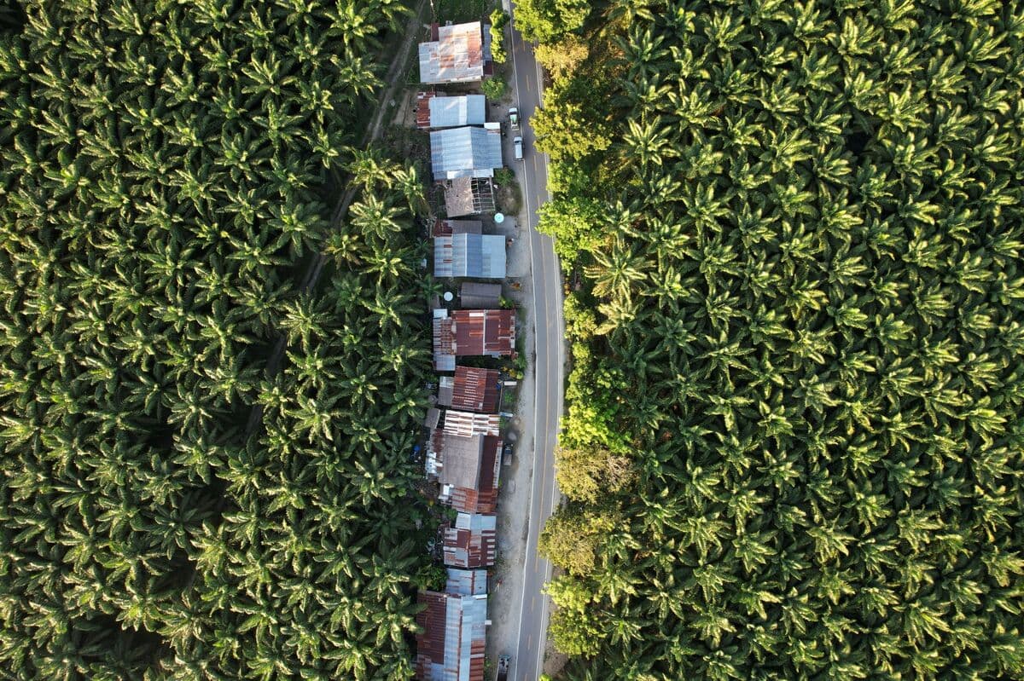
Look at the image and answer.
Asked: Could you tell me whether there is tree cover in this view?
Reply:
Yes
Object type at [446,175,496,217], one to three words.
house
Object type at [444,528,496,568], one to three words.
house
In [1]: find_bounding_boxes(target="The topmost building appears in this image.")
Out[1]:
[419,21,494,86]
